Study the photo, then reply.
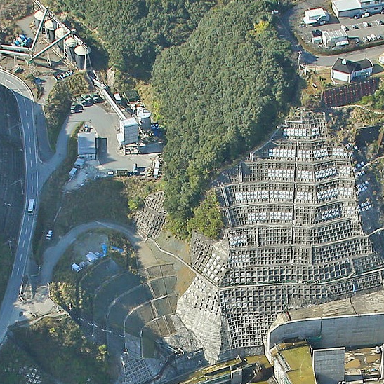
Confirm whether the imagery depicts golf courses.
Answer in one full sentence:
No, there isn't any golf course down there.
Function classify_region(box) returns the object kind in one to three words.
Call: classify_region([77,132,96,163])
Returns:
shed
